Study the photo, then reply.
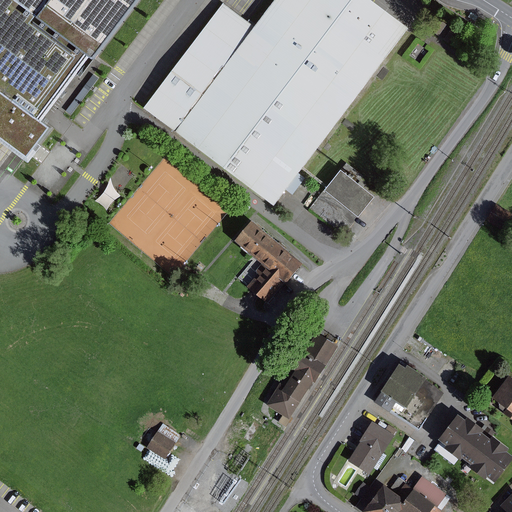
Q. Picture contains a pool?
Yes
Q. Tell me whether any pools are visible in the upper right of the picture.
No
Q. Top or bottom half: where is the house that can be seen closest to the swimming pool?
bottom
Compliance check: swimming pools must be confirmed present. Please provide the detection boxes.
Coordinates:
[334,460,366,490]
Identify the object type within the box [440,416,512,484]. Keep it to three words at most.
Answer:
house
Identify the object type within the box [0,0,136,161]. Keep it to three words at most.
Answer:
building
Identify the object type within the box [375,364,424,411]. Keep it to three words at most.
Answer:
house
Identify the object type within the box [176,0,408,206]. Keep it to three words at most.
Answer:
building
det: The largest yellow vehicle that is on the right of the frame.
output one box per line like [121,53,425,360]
[363,410,380,424]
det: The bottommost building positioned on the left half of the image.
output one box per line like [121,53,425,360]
[146,424,180,459]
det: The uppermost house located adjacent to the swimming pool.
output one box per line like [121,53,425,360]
[348,422,396,476]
